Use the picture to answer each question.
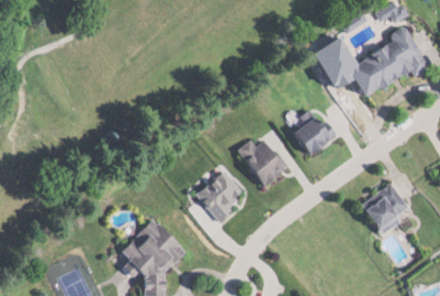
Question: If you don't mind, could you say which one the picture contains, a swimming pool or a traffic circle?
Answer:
swimming pool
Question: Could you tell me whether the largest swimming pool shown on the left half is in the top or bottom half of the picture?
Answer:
bottom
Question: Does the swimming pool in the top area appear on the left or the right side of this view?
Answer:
right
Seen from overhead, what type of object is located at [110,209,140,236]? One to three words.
swimming pool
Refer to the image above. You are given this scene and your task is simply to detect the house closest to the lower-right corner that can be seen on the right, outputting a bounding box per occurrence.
[362,181,409,234]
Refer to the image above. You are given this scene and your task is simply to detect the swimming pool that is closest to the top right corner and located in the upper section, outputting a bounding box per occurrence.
[350,28,376,52]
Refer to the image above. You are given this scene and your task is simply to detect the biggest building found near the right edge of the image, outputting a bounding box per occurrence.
[316,26,429,96]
